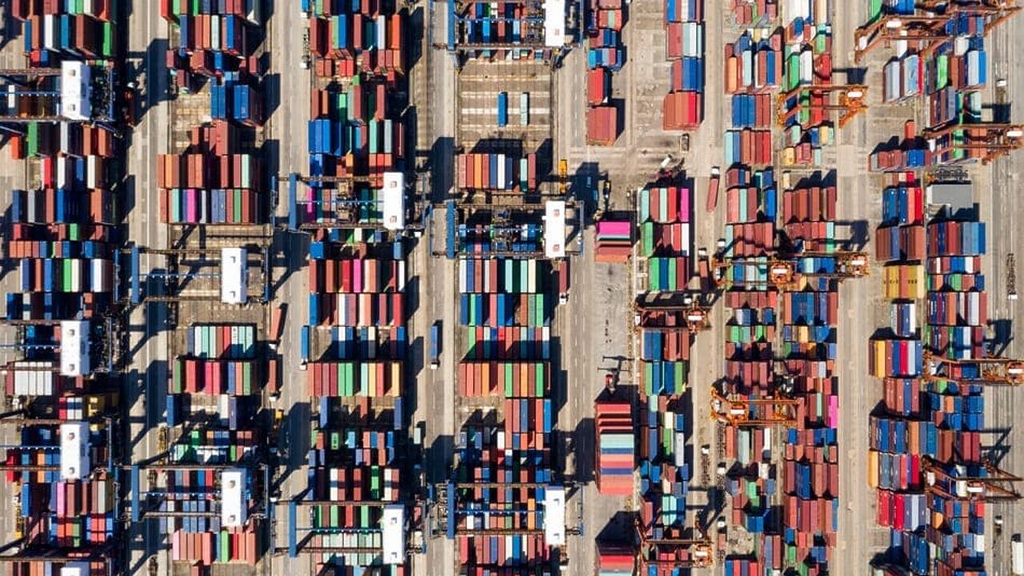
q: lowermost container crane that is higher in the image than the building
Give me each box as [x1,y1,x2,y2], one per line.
[923,121,1024,162]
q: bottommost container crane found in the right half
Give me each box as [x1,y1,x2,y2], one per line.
[633,517,716,566]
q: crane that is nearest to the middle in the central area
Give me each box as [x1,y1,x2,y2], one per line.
[431,199,583,263]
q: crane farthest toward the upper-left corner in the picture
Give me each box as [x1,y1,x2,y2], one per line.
[0,61,128,140]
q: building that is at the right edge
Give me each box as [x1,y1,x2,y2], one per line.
[933,186,982,215]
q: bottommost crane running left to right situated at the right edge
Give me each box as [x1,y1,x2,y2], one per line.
[923,458,1024,502]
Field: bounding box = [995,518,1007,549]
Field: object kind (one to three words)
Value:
vehicle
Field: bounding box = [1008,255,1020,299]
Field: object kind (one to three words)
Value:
vehicle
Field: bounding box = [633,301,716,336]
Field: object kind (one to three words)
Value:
container crane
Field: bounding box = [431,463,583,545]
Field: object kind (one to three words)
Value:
crane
